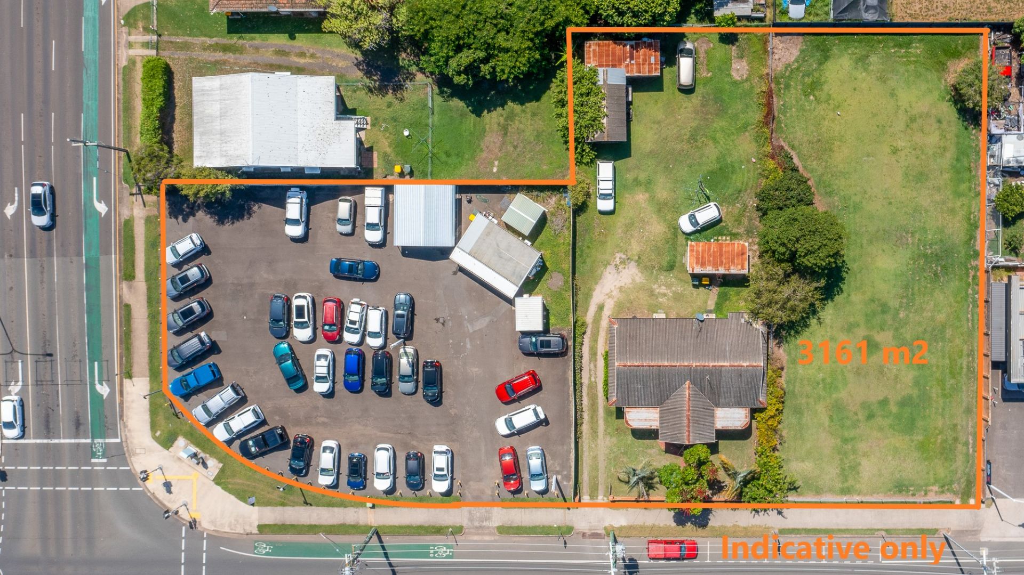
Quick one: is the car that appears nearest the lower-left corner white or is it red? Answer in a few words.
white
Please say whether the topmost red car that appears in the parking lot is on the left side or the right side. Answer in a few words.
left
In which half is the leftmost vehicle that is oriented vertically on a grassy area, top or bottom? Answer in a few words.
top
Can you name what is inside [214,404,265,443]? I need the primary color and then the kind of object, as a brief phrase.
white vehicle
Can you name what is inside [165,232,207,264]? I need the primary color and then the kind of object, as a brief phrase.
white car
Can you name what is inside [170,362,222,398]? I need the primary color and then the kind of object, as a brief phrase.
blue vehicle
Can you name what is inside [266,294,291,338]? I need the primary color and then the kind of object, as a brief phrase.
blue car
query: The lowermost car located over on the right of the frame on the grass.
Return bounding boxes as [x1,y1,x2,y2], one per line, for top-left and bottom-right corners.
[678,200,722,233]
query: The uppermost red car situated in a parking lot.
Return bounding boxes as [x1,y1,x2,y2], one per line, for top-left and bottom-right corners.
[319,298,342,342]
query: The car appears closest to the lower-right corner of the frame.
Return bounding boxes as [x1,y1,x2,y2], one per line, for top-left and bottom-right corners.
[1002,370,1024,393]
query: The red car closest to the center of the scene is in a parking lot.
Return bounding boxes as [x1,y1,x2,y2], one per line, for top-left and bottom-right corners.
[496,370,541,402]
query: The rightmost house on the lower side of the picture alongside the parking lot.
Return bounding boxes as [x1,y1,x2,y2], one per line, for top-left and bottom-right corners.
[607,312,768,451]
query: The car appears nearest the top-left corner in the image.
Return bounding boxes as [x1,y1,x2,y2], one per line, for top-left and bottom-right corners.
[30,182,55,229]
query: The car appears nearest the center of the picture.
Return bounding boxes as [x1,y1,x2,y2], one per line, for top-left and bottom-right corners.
[518,332,567,355]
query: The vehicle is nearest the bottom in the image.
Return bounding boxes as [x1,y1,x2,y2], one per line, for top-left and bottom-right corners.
[648,538,697,562]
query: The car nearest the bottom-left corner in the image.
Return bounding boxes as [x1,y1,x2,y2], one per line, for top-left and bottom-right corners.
[1,395,25,438]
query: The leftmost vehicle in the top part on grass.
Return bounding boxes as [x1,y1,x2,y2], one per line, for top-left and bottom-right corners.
[594,161,618,213]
